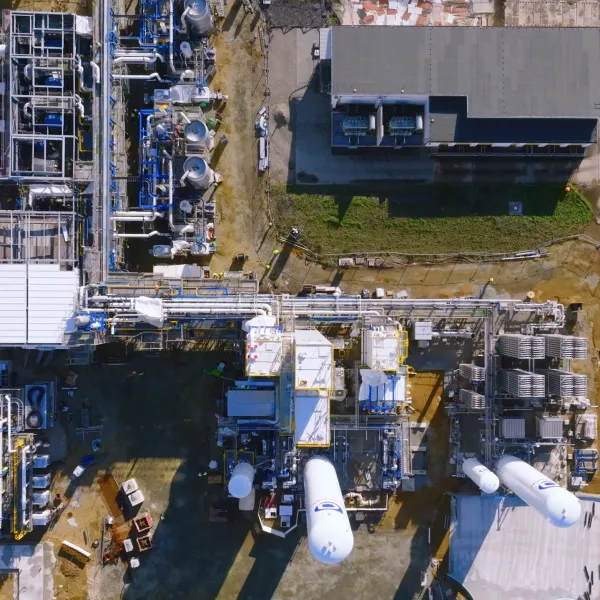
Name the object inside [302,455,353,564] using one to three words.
storage tank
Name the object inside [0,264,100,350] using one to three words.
building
